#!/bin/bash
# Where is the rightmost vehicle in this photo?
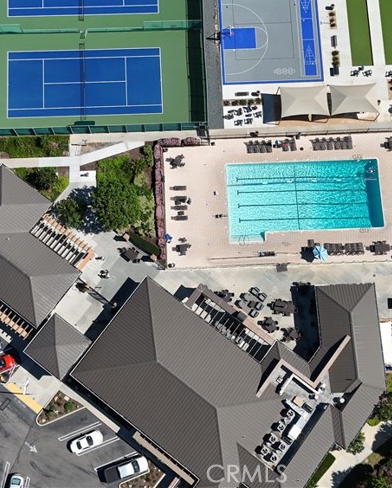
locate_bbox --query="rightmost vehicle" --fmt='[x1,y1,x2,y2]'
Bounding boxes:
[103,456,148,483]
